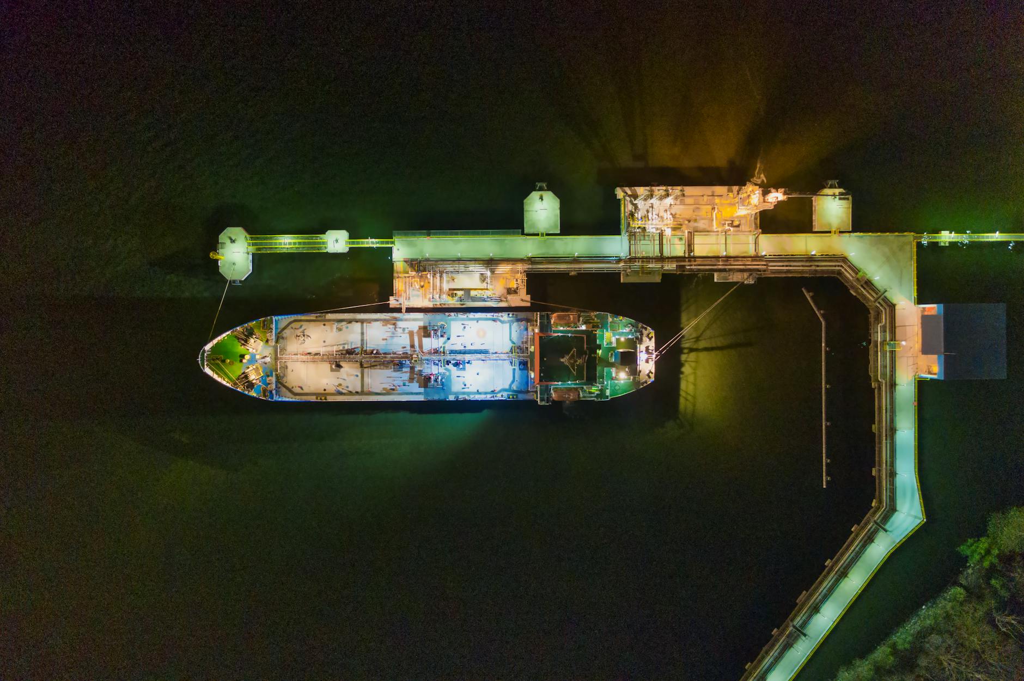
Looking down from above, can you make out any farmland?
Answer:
No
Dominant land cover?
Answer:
water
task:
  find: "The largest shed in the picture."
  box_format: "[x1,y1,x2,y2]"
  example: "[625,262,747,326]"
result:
[915,303,1008,379]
